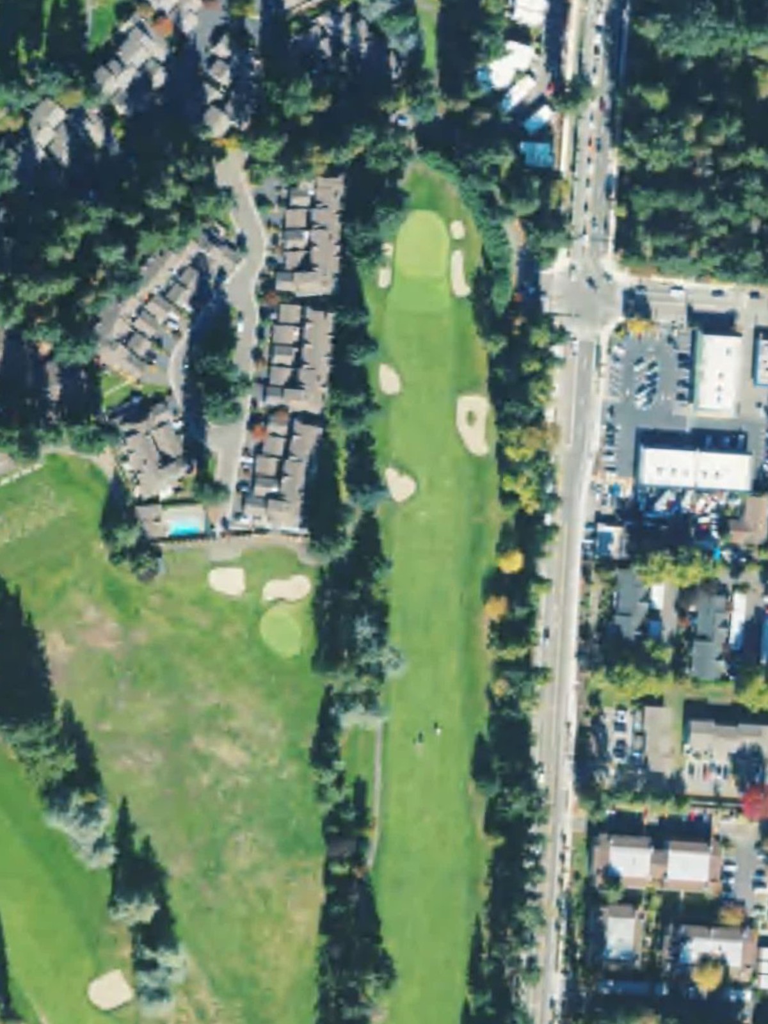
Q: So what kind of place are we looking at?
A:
golf course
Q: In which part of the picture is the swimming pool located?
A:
left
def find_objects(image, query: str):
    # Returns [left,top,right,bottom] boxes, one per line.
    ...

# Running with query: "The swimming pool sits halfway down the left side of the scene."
[160,507,207,539]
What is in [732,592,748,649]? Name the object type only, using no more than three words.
trailer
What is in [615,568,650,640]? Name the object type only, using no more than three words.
house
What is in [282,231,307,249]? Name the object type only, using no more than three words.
building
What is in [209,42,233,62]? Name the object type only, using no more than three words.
house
